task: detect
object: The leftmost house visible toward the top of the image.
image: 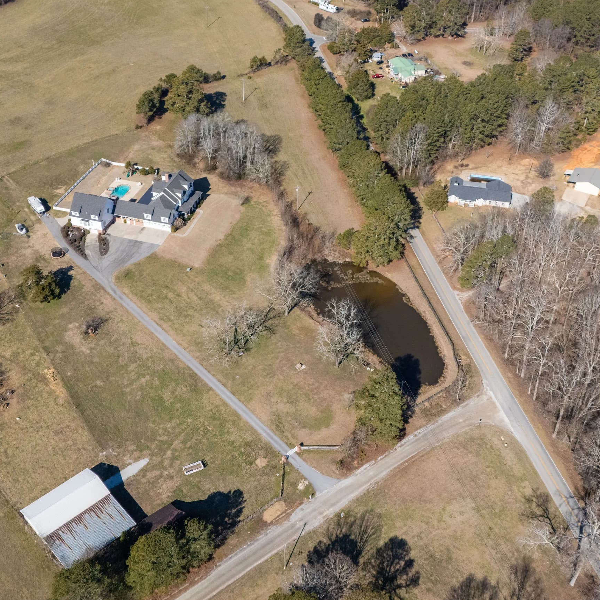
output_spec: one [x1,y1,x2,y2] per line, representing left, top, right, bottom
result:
[67,193,117,232]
